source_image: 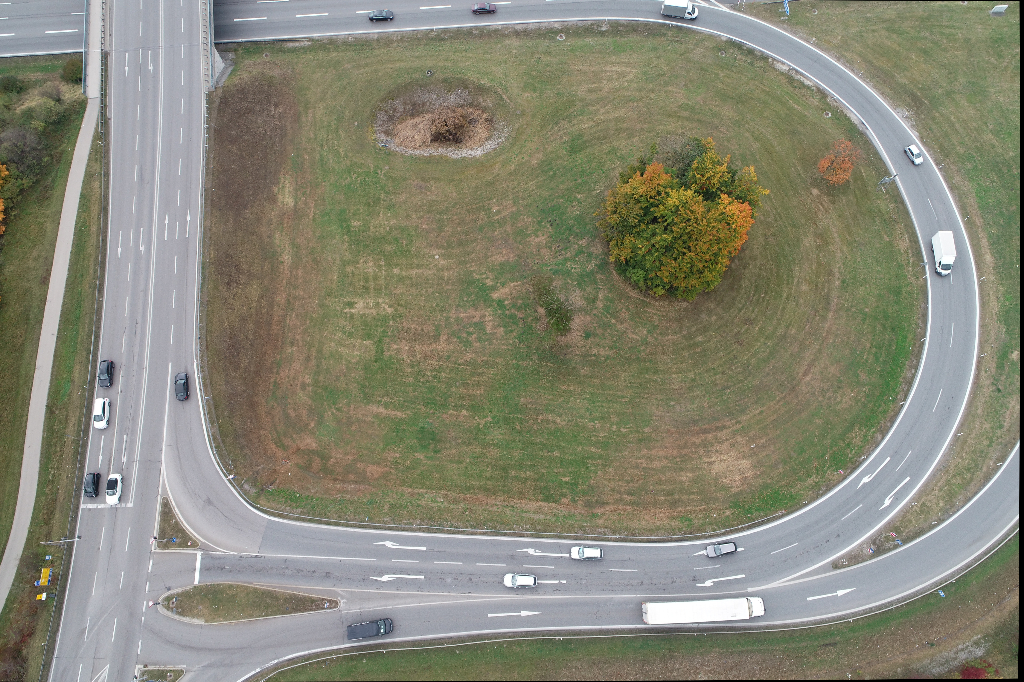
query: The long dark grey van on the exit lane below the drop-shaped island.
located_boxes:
[346,617,392,641]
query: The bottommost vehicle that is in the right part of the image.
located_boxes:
[638,594,766,623]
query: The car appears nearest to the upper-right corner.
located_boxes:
[903,145,923,165]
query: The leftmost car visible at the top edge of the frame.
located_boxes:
[369,9,394,22]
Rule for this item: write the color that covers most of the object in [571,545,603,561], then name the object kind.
white car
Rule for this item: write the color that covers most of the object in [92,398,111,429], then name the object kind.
white car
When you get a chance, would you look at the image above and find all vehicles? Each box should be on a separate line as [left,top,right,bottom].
[472,2,496,15]
[369,9,394,22]
[705,541,739,559]
[931,231,956,274]
[663,0,699,19]
[504,572,537,589]
[104,474,123,506]
[638,594,766,623]
[174,373,190,401]
[346,617,392,641]
[83,472,101,499]
[571,545,603,561]
[92,398,111,429]
[97,360,115,388]
[903,145,923,165]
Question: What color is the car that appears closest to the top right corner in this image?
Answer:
white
